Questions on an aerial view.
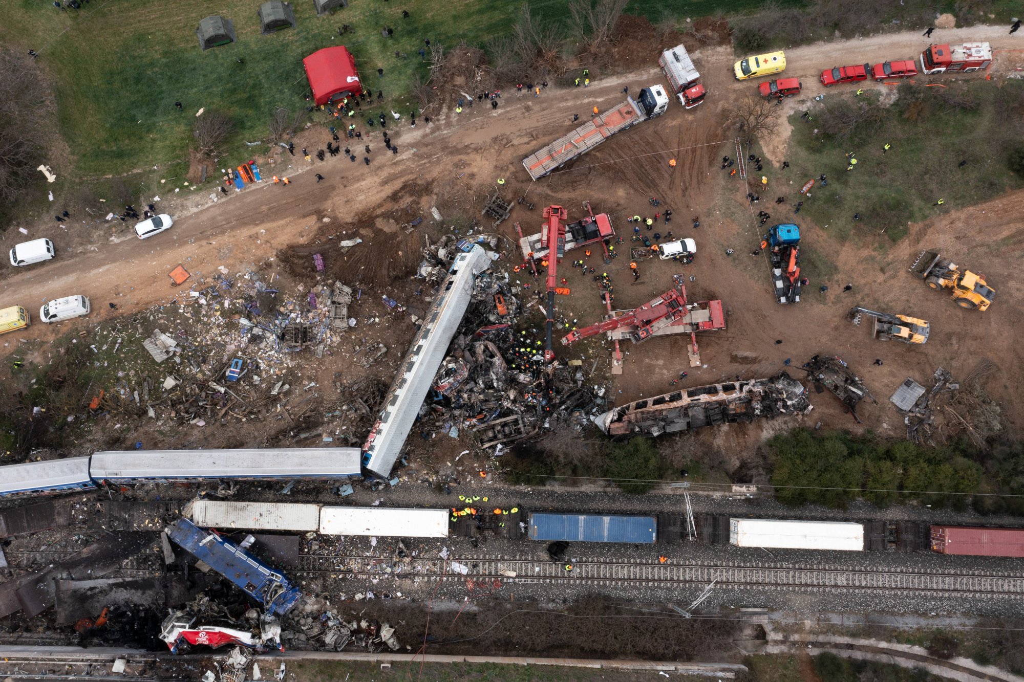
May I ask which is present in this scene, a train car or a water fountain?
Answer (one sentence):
There is a train car in the scene.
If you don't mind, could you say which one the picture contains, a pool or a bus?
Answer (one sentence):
I can see a bus in this picture.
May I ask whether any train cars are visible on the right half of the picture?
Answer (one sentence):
Yes, I can see a train car on the right half of the picture.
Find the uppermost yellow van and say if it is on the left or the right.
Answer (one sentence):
You can find the uppermost yellow van on the right side of the picture.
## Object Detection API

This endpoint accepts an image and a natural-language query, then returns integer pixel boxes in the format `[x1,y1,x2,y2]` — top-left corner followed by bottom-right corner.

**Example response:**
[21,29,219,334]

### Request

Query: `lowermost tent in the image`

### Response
[294,37,386,114]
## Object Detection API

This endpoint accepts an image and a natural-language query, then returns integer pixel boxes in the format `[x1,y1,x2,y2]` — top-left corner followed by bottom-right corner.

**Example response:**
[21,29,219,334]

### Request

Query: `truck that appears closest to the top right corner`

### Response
[917,42,998,82]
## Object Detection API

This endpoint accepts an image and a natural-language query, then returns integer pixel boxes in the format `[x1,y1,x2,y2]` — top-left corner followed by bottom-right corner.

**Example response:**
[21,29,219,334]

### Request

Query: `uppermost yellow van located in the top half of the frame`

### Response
[730,49,789,84]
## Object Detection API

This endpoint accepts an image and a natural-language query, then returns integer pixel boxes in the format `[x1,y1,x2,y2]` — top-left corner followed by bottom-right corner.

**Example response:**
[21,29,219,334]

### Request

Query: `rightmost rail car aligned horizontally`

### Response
[891,524,1024,559]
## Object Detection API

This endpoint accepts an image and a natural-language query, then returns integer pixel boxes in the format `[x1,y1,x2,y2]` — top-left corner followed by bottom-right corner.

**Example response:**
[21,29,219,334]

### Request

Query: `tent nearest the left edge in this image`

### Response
[197,8,238,52]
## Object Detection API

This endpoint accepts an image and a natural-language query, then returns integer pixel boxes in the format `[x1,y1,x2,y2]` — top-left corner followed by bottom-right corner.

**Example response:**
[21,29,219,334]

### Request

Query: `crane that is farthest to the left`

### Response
[511,188,616,387]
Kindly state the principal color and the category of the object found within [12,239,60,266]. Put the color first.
white vehicle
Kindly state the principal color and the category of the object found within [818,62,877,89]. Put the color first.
red vehicle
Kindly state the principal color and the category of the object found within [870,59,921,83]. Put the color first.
red vehicle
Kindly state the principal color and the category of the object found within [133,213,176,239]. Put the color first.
white car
